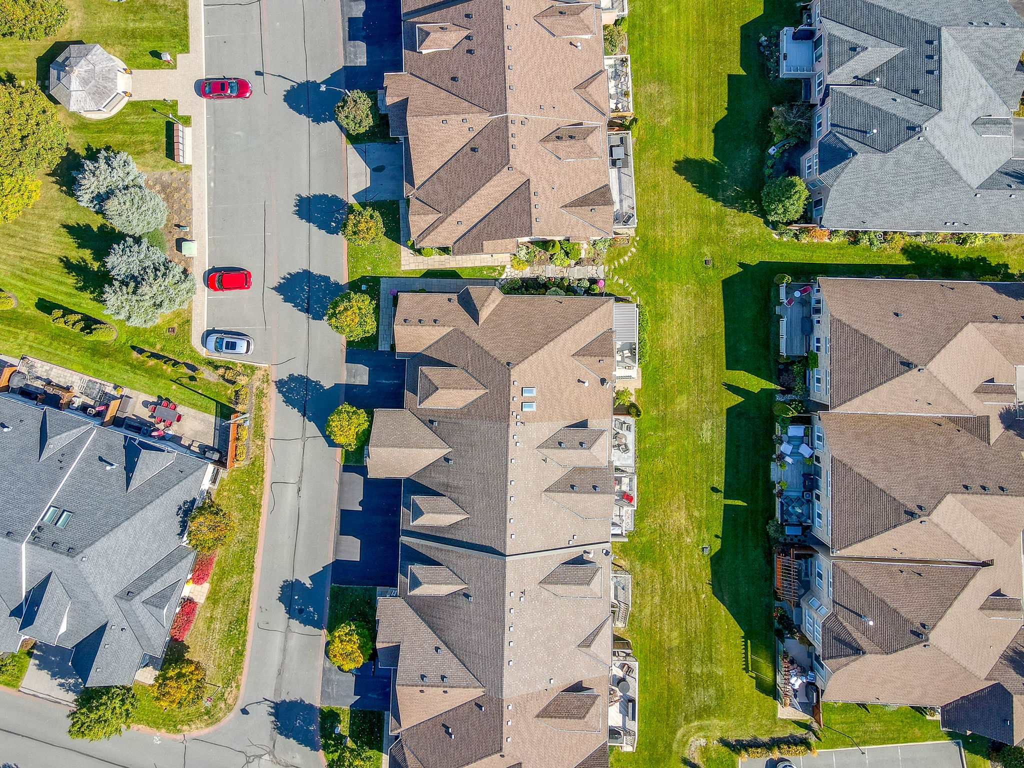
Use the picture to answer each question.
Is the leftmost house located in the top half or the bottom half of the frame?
bottom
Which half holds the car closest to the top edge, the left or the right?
left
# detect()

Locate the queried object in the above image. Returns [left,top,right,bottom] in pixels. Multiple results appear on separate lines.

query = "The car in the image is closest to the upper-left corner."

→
[201,75,255,102]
